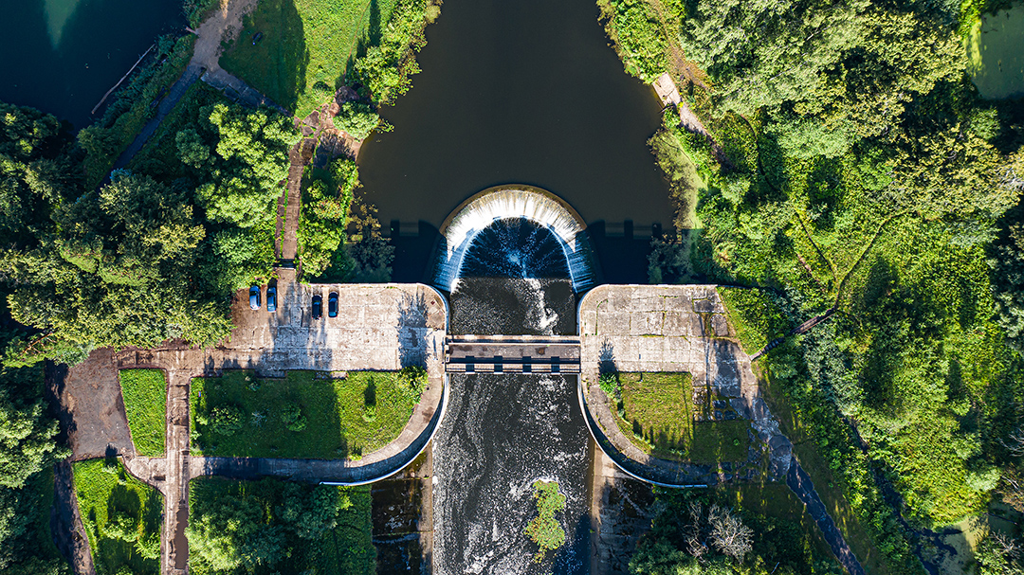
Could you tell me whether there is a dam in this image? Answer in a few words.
Yes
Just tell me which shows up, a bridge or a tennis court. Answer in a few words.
bridge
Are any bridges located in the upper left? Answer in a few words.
No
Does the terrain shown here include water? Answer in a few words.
Yes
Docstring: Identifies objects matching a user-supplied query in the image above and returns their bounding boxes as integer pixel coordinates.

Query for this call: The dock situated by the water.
[650,73,679,112]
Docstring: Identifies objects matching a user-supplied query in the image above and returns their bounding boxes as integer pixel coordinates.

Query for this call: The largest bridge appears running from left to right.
[447,335,580,374]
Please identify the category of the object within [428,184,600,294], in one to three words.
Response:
dam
